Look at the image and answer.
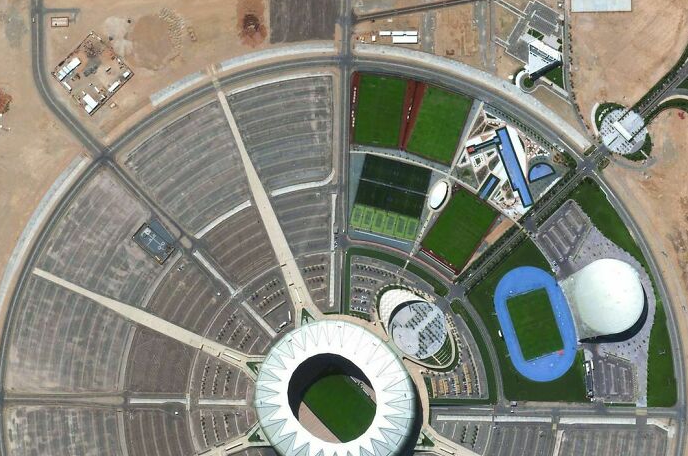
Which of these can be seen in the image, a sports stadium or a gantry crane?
sports stadium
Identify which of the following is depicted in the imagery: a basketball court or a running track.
running track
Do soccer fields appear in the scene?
Yes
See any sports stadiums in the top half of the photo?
No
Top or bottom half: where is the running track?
bottom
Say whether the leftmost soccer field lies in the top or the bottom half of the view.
bottom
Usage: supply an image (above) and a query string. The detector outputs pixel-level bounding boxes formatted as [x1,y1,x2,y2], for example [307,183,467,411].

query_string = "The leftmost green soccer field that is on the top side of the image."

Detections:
[350,73,415,149]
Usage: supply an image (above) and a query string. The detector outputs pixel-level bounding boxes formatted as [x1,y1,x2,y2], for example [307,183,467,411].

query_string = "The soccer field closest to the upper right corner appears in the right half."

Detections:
[403,80,473,167]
